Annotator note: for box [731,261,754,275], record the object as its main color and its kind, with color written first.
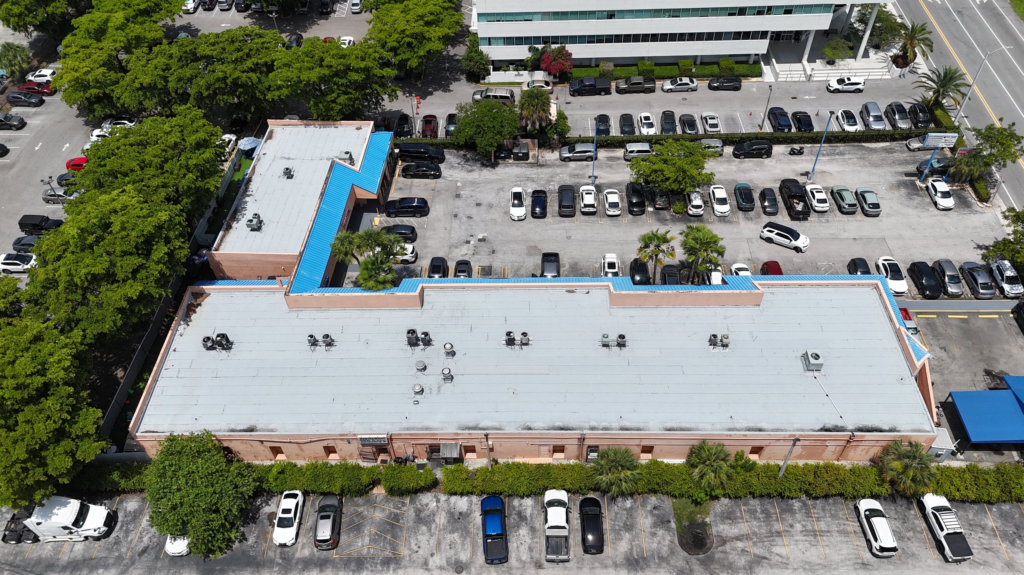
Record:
white car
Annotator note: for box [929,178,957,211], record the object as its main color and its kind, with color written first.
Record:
white car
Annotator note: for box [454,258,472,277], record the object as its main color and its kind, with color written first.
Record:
black car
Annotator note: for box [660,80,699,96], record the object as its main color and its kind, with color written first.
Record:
gray car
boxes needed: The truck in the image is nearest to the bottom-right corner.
[920,491,978,566]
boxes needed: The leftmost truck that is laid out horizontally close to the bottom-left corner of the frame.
[2,495,122,545]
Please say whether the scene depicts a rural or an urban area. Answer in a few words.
urban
